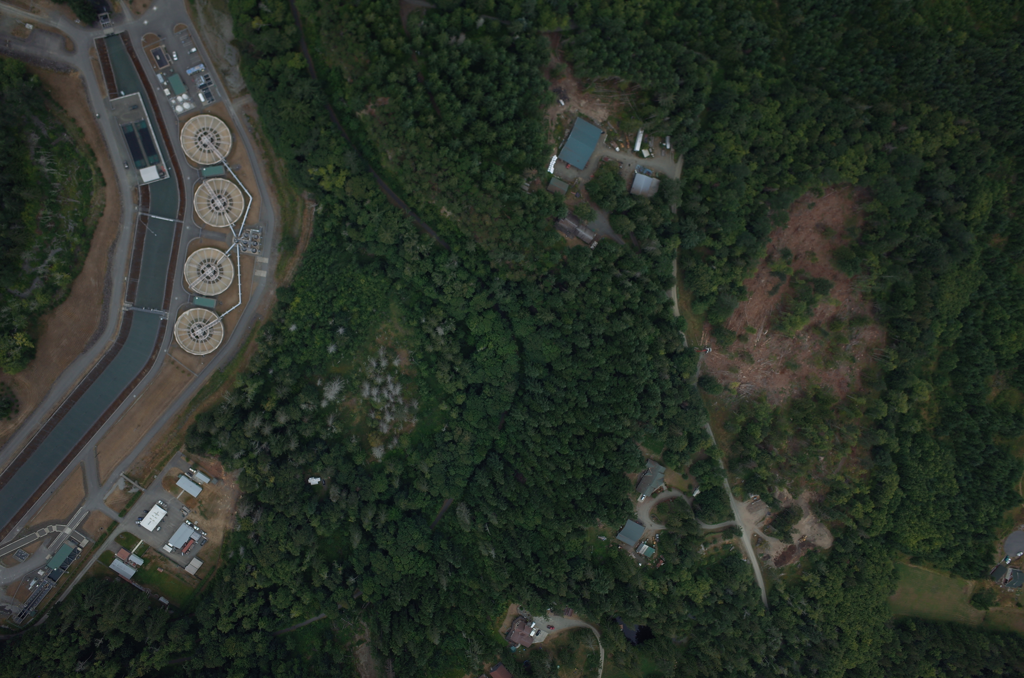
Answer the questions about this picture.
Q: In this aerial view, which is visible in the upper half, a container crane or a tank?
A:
tank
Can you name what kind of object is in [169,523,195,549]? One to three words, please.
building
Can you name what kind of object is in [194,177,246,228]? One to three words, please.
storage tank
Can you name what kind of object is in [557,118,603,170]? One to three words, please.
barn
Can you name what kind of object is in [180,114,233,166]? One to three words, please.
storage tank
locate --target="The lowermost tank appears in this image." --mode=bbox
[174,307,226,356]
